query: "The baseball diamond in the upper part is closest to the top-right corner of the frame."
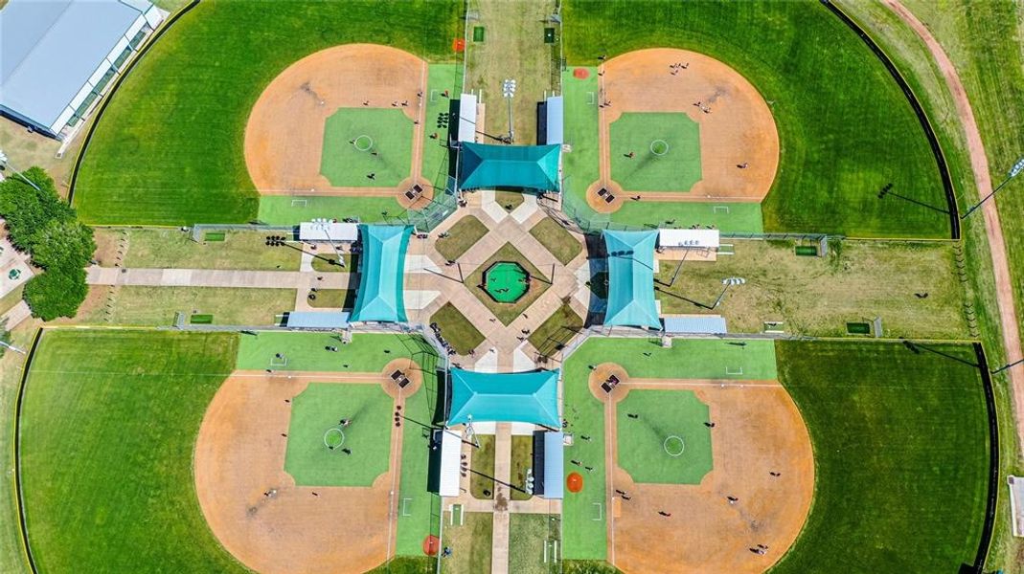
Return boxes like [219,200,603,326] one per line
[561,0,955,239]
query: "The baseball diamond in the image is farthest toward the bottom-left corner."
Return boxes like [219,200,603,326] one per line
[18,326,447,574]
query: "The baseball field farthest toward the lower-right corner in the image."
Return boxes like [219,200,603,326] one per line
[559,337,995,574]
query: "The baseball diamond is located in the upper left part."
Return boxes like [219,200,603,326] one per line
[69,0,467,230]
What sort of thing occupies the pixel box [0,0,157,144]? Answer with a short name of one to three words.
building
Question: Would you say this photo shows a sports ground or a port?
sports ground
